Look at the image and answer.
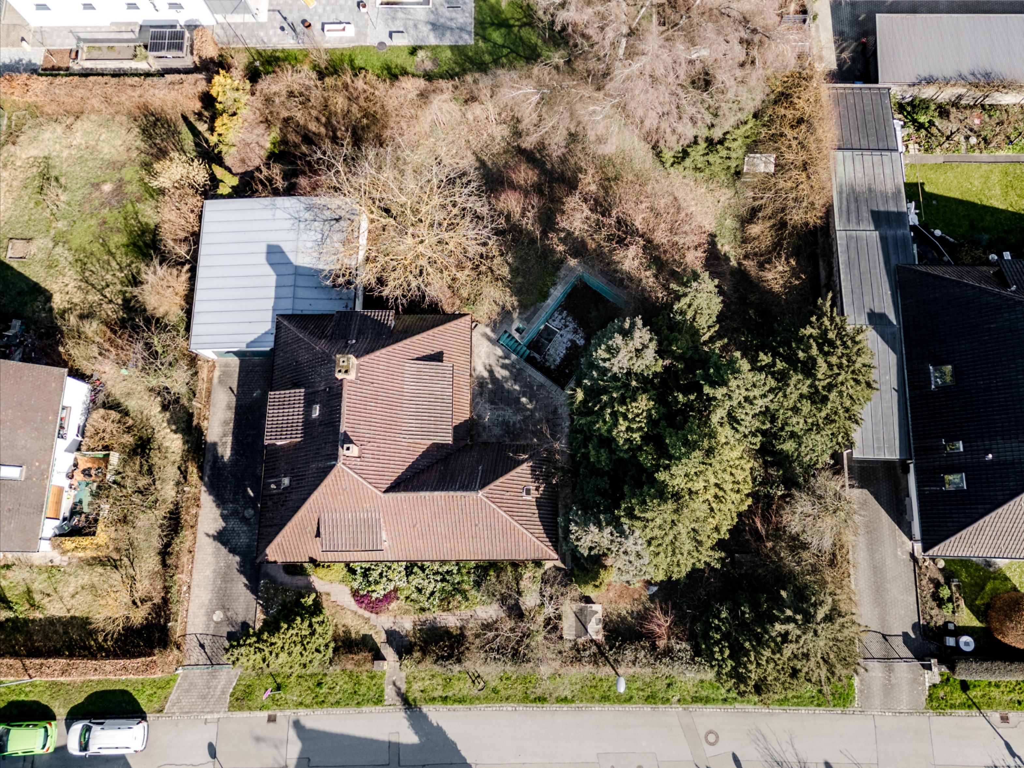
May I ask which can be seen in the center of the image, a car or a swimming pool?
swimming pool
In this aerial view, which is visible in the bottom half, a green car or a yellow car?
green car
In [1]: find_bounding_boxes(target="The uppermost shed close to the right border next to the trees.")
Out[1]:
[855,11,1024,104]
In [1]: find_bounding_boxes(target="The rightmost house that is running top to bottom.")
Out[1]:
[892,262,1024,560]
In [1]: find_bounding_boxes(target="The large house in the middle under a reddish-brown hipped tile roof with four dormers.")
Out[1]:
[256,308,562,564]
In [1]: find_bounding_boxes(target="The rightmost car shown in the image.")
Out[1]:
[71,715,154,758]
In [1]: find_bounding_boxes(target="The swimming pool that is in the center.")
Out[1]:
[497,273,629,389]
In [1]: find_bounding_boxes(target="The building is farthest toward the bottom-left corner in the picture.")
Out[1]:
[0,360,91,553]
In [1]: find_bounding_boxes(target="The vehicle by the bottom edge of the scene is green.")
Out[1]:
[0,717,62,757]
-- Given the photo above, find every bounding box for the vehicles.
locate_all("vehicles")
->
[0,717,62,757]
[71,715,154,758]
